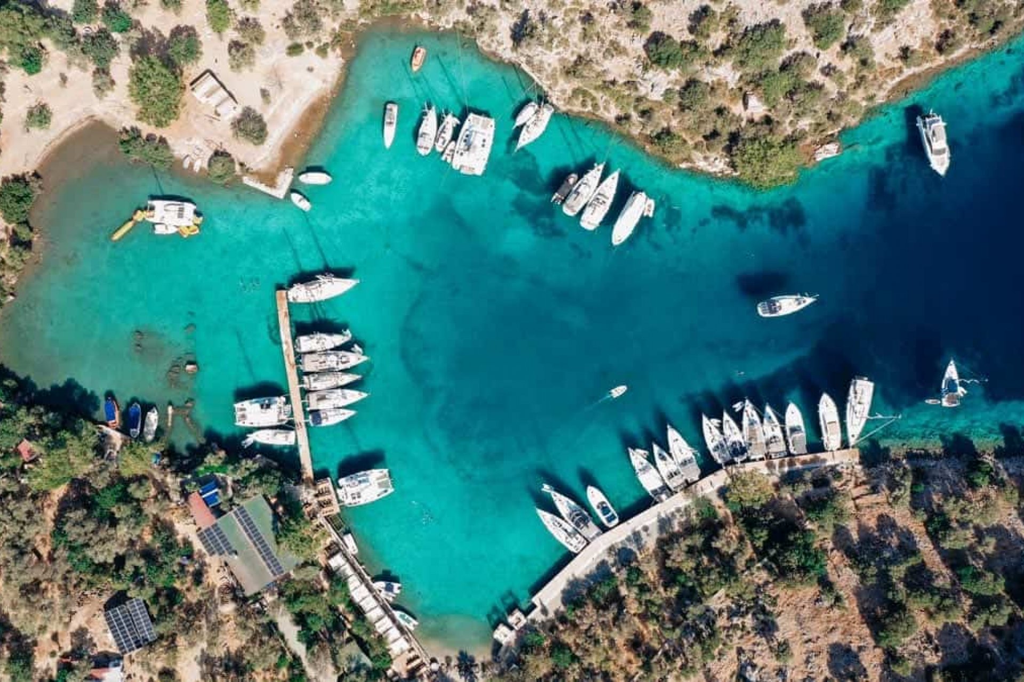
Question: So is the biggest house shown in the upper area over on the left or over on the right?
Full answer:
It is on the left.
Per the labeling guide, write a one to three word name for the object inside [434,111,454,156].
boat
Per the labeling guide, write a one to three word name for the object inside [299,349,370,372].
boat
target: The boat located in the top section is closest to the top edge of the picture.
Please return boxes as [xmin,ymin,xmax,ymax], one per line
[411,45,427,71]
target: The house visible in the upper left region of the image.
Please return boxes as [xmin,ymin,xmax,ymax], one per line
[190,70,241,117]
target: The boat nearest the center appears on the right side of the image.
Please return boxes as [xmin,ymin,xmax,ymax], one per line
[609,386,627,399]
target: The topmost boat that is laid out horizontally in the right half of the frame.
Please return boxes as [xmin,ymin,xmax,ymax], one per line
[752,293,822,318]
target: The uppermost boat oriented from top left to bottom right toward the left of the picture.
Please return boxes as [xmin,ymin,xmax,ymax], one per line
[292,193,312,212]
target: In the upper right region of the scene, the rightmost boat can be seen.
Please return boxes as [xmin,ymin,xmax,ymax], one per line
[913,111,949,174]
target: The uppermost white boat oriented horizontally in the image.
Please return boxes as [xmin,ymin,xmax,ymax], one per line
[299,171,332,184]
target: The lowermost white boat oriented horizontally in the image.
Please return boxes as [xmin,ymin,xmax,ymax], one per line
[375,580,402,593]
